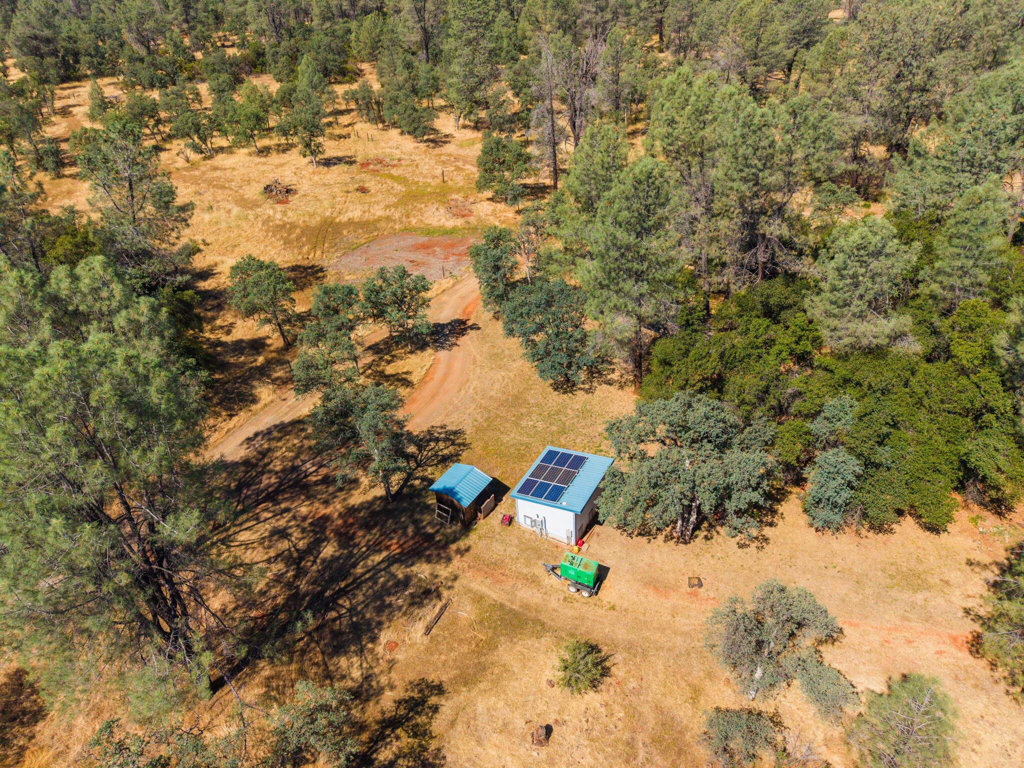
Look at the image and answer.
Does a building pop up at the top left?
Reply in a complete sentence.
No, no building is visible at the top left.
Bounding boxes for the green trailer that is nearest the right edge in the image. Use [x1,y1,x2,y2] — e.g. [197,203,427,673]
[541,552,603,597]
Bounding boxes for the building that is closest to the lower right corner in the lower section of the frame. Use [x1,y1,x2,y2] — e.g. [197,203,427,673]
[509,444,615,545]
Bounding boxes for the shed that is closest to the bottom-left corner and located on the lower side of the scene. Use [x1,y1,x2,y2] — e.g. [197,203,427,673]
[429,463,493,525]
